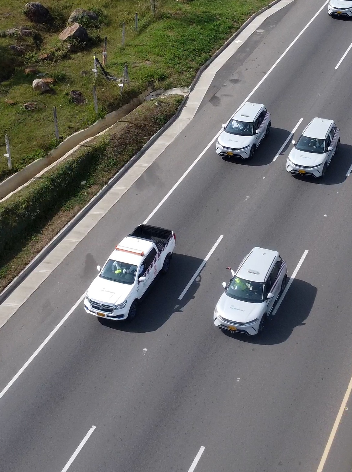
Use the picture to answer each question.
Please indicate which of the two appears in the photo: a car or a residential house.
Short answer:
car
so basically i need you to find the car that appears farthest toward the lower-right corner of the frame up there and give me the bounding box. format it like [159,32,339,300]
[215,247,287,340]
